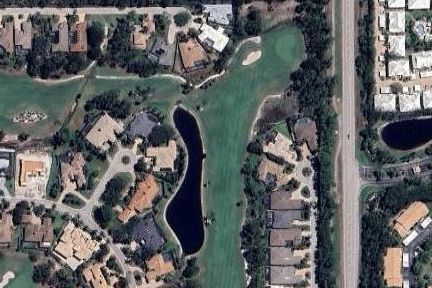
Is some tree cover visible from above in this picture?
Yes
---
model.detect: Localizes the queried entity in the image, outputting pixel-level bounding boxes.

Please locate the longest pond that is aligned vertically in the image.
[166,104,202,255]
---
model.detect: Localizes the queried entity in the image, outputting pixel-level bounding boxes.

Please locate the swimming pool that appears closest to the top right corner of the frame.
[414,21,428,39]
